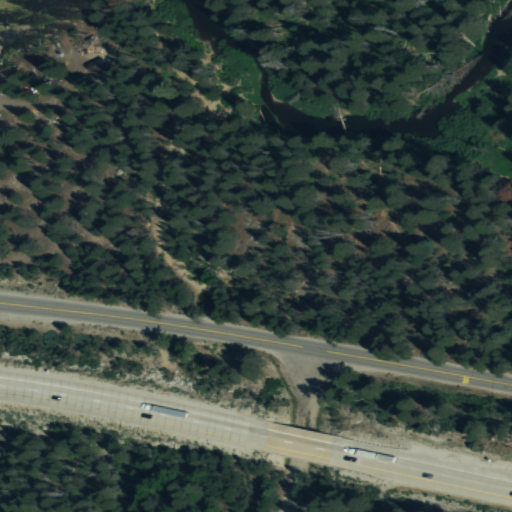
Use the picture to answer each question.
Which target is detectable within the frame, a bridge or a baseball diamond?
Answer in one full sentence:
It is a bridge that can be seen here.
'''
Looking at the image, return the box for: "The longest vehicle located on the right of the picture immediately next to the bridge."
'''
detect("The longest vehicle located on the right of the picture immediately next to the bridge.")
[344,448,398,462]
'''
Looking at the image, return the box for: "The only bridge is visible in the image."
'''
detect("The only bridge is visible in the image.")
[264,422,334,466]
